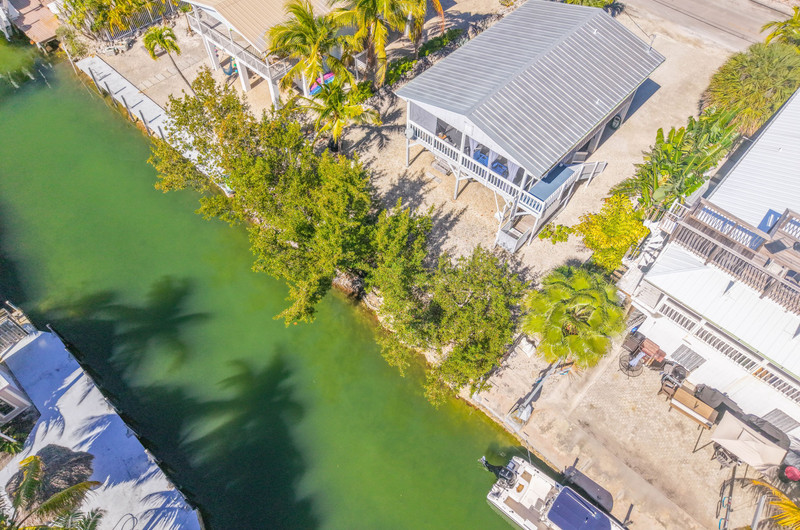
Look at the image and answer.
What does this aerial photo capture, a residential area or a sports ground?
residential area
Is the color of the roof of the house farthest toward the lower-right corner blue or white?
white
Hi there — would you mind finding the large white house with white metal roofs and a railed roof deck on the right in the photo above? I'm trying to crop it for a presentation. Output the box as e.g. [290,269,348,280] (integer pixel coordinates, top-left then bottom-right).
[617,82,800,451]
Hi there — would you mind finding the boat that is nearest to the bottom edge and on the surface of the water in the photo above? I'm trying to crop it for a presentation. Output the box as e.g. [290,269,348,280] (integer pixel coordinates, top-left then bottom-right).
[470,450,609,530]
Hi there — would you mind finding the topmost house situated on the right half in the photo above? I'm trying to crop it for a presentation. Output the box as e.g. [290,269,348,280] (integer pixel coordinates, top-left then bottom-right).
[393,0,663,255]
